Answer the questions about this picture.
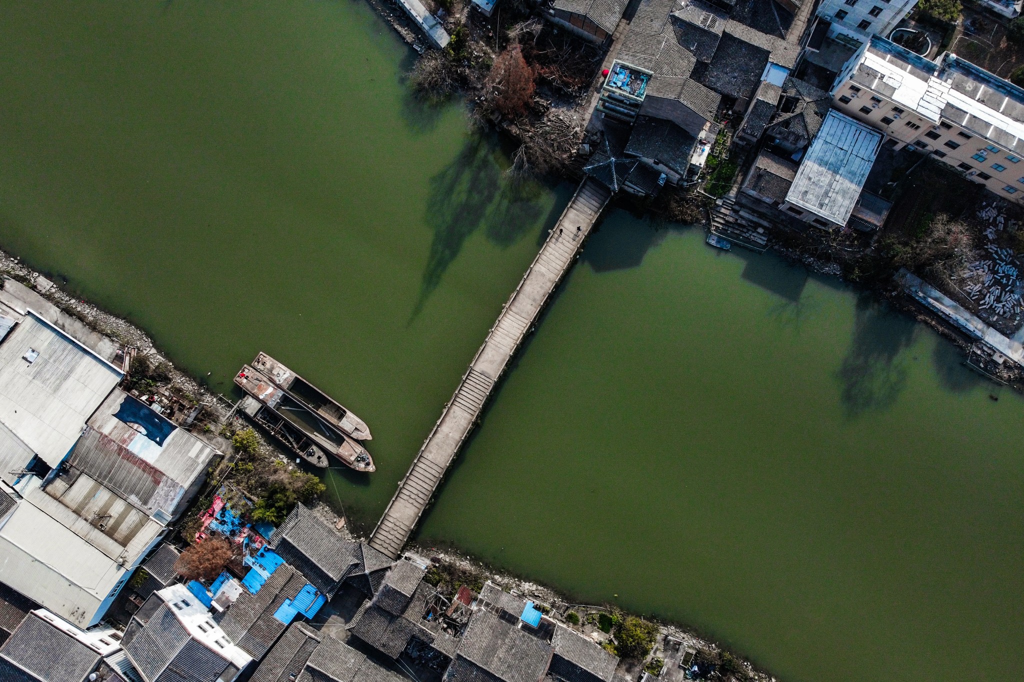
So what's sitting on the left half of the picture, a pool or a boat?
boat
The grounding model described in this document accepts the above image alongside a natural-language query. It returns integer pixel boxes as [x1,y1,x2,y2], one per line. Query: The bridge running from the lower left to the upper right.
[365,172,616,561]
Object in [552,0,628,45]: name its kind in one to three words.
building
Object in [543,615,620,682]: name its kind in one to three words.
house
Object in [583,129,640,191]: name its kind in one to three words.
building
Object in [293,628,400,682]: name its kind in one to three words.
house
